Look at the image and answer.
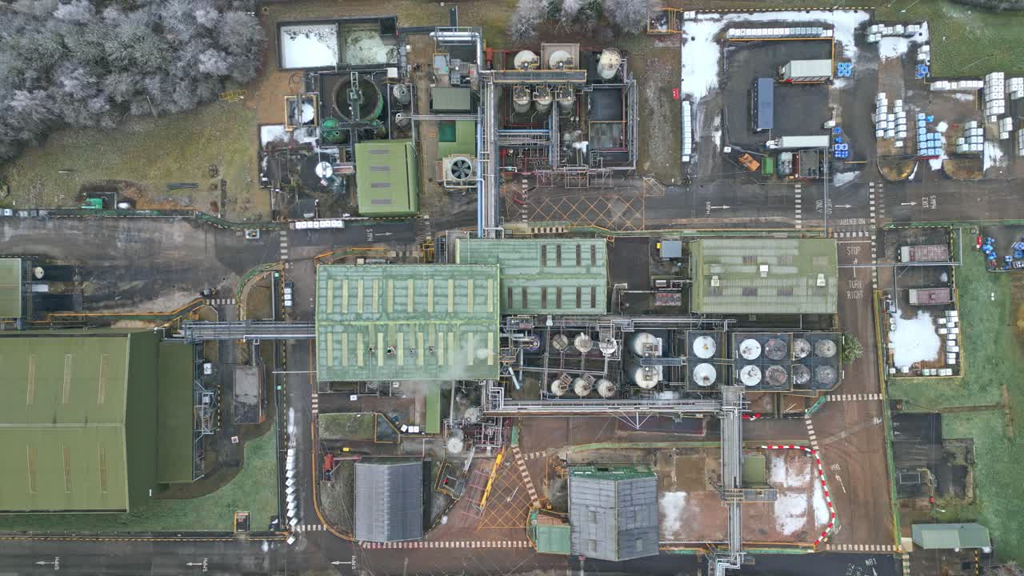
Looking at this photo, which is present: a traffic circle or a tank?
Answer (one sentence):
I can see a tank in this picture.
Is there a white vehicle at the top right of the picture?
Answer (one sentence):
Yes, the scene does show a white vehicle at the top right of the picture.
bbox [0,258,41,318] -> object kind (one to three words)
shed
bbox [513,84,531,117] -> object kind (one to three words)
silo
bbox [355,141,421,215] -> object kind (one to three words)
house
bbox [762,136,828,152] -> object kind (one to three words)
vehicle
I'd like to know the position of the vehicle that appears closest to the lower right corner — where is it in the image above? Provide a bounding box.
[905,288,953,305]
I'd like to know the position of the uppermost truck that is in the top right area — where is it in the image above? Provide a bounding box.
[773,59,832,83]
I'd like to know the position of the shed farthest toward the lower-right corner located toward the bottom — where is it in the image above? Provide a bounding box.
[905,520,991,549]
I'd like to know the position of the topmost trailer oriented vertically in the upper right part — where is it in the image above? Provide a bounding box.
[750,78,774,136]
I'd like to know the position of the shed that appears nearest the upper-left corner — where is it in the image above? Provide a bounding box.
[81,191,120,209]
